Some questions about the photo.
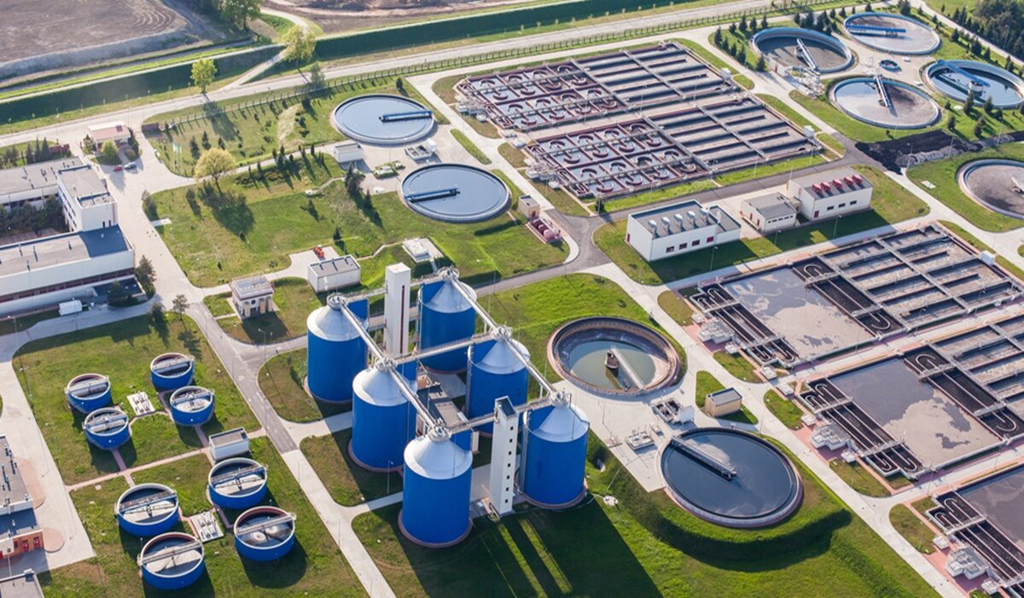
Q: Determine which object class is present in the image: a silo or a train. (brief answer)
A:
silo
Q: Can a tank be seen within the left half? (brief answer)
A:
Yes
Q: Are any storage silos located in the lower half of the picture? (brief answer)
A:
Yes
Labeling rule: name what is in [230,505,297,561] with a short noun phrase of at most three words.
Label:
storage tank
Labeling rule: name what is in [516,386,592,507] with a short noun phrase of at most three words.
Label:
silo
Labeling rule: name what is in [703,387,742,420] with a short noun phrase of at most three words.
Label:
shed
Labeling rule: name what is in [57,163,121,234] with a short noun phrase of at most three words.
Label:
building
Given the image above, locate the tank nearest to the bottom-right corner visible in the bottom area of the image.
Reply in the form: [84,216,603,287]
[655,431,805,533]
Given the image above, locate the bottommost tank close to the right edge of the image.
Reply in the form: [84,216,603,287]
[955,157,1024,226]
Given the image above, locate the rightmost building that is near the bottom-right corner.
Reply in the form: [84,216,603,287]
[931,549,987,586]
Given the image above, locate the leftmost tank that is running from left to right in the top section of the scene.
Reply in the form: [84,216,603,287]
[331,94,437,147]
